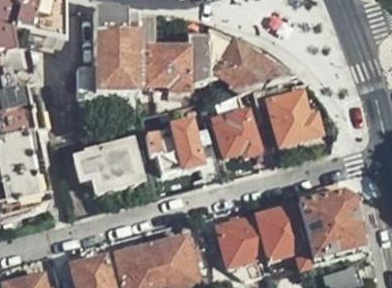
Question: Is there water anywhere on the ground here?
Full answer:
No, there's no water in this view.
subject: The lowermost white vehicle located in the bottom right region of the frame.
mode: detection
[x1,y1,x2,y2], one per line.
[378,225,390,249]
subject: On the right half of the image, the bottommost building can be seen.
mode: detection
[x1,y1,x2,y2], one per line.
[324,268,362,288]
